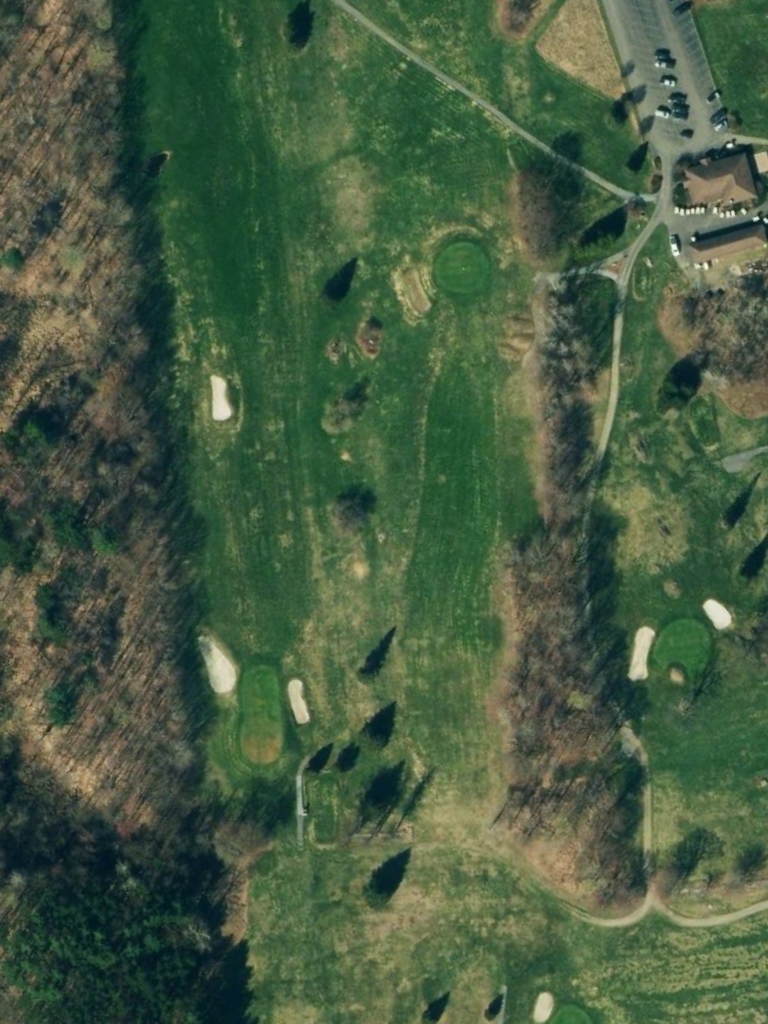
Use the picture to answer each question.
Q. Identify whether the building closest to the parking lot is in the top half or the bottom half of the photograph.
top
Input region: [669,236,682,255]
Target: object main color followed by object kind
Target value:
white vehicle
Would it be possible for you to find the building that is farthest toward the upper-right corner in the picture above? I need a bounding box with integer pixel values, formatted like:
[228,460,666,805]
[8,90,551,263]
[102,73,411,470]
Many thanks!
[683,152,759,212]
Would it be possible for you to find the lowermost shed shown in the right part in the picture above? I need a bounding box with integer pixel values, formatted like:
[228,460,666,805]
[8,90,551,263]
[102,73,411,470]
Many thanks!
[691,224,768,262]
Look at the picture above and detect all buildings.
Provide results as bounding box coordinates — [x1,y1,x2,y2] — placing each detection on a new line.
[691,224,768,262]
[683,152,759,212]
